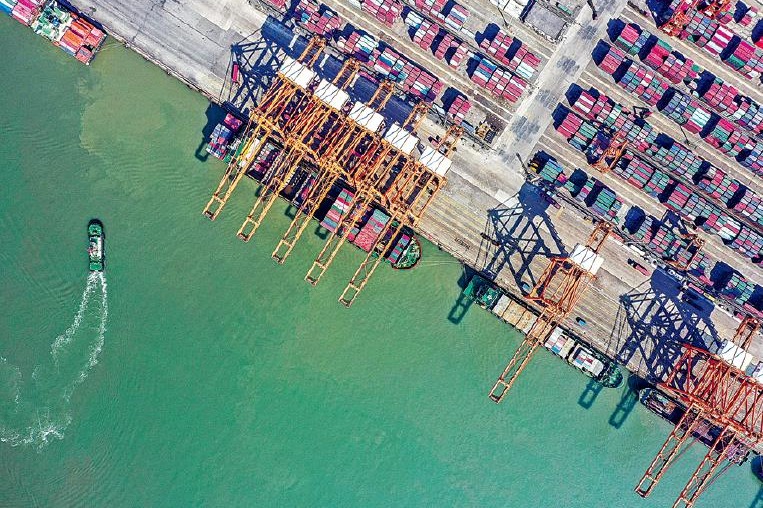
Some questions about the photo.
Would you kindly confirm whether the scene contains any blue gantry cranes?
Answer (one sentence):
No, the photo shows no blue gantry crane.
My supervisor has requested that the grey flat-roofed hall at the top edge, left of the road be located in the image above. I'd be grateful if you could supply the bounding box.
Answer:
[522,3,566,45]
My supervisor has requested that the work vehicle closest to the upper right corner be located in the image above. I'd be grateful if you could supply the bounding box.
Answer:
[641,107,666,124]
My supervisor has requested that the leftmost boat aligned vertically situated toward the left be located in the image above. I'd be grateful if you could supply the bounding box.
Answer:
[88,220,107,271]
